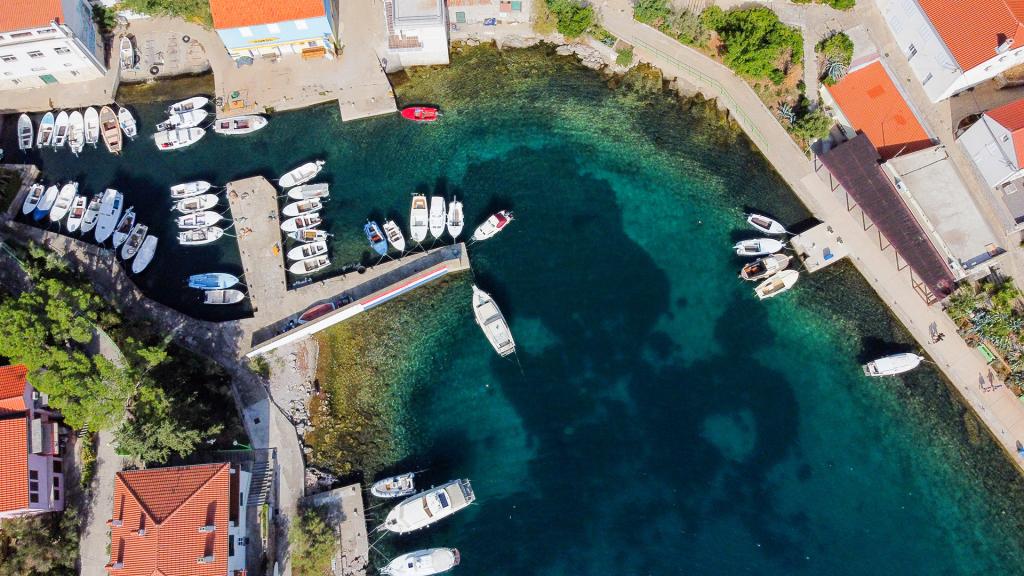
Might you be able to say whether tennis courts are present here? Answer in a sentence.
No, no tennis court is visible in the view.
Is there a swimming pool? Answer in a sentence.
No, the frame has no swimming pool in it.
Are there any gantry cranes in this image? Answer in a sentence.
No, the photo shows no gantry crane.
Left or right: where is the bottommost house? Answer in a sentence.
It is on the left.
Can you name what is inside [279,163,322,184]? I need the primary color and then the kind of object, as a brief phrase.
white boat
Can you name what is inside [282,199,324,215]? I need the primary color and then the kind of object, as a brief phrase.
white boat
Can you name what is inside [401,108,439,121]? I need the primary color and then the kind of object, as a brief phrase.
red boat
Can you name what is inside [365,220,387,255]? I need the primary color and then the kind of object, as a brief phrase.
blue boat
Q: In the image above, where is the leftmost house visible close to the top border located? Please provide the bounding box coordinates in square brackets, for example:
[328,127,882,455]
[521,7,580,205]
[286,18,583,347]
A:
[0,0,107,89]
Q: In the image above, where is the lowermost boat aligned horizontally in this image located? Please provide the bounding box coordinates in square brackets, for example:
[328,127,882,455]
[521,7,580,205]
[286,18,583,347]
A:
[376,544,464,576]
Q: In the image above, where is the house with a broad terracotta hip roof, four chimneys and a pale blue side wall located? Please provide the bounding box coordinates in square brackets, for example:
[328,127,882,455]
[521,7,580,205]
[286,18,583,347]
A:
[107,462,253,576]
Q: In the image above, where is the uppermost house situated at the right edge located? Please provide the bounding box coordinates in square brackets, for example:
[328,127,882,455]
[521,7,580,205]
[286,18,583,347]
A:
[876,0,1024,102]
